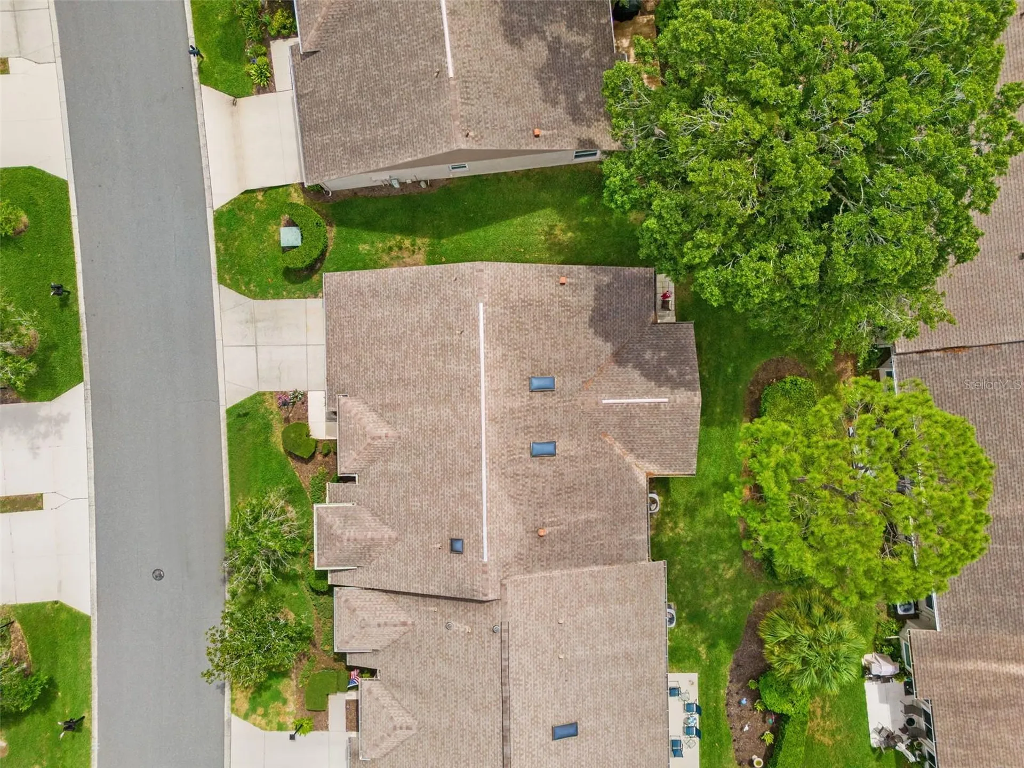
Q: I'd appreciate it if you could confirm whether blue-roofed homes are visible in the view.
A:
No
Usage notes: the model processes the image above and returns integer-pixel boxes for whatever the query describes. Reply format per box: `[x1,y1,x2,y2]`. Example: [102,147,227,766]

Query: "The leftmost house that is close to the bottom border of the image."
[329,560,670,768]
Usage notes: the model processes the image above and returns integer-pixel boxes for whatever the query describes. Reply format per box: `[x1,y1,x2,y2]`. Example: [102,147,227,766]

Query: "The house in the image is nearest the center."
[312,261,701,601]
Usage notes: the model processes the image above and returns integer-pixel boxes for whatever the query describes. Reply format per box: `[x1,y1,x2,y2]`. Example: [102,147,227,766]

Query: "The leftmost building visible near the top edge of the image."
[288,0,628,197]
